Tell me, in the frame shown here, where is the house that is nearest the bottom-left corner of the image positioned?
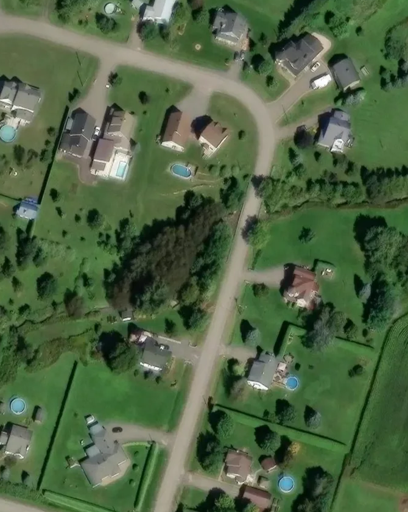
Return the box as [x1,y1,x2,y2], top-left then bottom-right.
[0,424,32,459]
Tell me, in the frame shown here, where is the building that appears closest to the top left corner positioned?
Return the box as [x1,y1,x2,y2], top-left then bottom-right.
[0,75,41,130]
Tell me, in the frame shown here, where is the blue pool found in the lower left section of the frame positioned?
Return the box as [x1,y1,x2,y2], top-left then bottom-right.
[9,398,25,415]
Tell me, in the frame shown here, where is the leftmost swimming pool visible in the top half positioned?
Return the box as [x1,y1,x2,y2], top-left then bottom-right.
[0,125,15,142]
